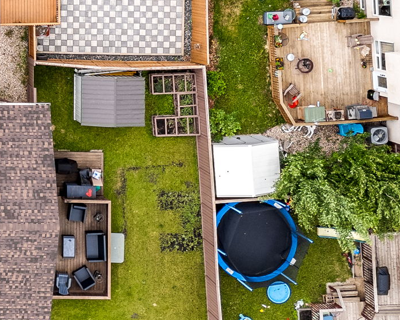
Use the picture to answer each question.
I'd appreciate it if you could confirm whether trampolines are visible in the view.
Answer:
Yes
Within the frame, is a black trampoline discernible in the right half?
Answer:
Yes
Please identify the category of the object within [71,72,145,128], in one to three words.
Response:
shed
